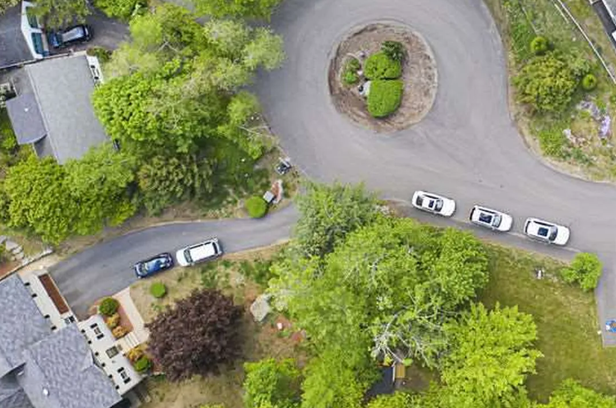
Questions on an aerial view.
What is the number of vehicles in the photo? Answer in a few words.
6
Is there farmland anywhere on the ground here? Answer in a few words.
No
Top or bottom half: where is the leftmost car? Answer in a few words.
top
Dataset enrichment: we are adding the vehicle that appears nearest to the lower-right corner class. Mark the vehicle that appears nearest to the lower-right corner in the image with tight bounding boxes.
[522,216,572,247]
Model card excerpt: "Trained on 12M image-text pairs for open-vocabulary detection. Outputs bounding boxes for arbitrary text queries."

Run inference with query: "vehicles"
[134,253,176,278]
[466,203,515,233]
[51,23,100,48]
[522,216,572,247]
[409,189,458,219]
[179,235,228,266]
